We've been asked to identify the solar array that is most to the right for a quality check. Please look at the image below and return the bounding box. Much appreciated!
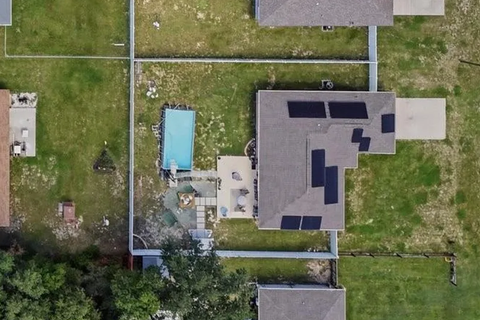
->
[382,113,395,133]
